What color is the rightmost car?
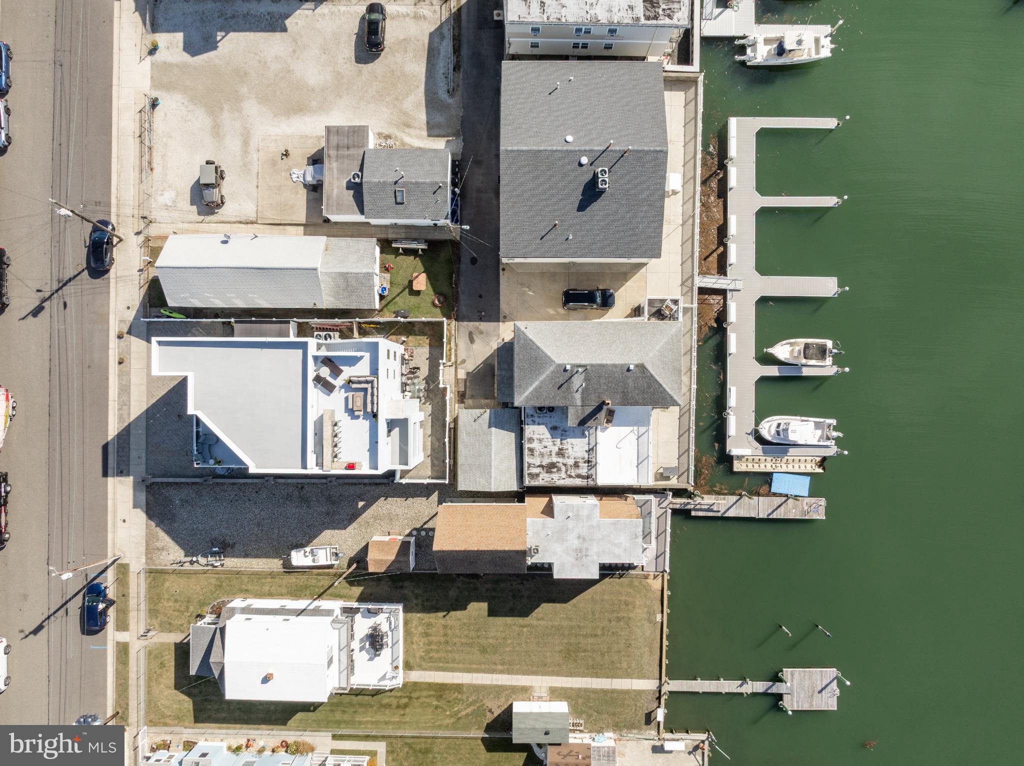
black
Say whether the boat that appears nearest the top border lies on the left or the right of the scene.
right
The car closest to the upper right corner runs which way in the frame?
from left to right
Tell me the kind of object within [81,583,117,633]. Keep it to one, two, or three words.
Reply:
car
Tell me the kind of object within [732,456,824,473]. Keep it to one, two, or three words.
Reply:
pier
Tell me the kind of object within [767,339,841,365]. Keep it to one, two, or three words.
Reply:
boat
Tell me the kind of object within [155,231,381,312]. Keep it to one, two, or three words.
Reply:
house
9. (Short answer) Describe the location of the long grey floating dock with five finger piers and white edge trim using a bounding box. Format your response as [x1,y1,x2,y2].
[726,117,838,456]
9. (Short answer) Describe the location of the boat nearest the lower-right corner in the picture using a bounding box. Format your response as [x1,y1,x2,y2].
[757,415,847,445]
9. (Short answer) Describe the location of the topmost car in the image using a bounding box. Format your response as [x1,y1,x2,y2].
[361,0,386,53]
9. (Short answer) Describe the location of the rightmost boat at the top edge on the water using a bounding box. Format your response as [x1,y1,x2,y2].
[729,9,837,69]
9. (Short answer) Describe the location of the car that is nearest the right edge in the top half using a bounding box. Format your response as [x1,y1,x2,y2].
[561,286,615,311]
